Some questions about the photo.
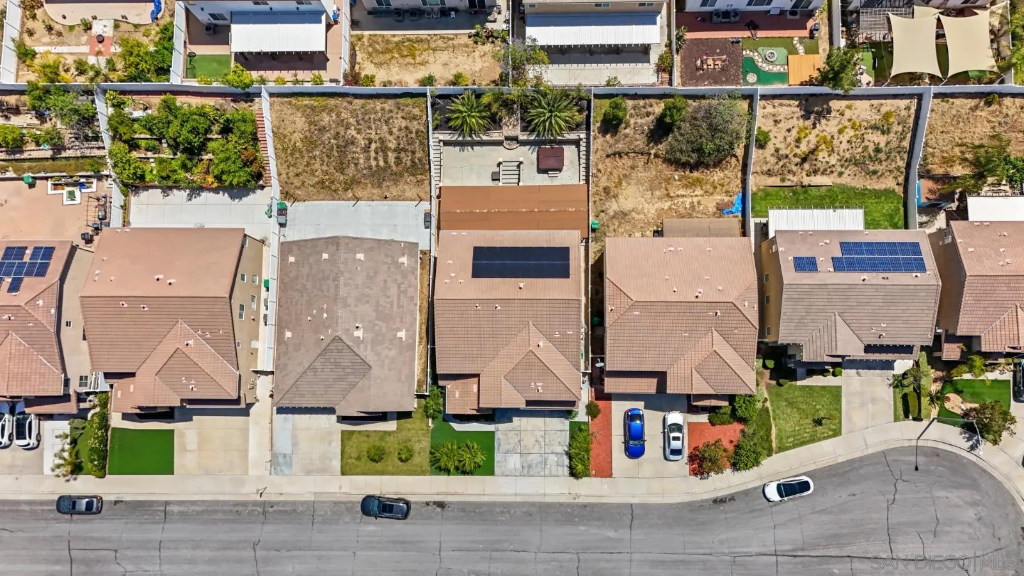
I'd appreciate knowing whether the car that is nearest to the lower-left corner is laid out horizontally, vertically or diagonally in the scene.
horizontally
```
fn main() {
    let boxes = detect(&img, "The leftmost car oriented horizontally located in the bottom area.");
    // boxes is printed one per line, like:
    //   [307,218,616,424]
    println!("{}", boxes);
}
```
[57,493,108,517]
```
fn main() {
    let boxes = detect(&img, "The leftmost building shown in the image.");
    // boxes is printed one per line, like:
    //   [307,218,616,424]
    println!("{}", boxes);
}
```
[0,241,99,413]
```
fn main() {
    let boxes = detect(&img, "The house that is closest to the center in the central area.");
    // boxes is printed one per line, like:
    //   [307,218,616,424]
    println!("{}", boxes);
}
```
[431,230,582,415]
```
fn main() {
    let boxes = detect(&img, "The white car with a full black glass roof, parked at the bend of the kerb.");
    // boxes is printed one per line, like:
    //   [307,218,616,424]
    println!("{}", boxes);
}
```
[761,474,814,503]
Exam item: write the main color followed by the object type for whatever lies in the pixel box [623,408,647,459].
blue car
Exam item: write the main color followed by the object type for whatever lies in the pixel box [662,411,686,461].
white car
